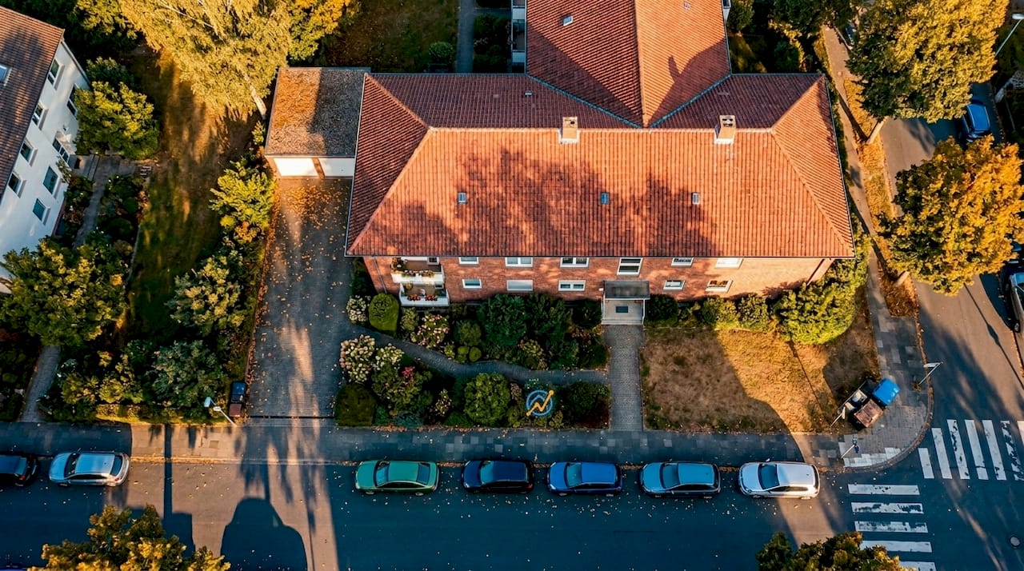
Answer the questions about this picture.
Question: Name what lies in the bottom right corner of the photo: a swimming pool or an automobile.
automobile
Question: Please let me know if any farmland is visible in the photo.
No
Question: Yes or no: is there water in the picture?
No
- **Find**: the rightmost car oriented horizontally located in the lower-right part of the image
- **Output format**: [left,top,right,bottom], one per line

[737,459,821,499]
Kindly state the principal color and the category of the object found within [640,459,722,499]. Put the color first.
blue car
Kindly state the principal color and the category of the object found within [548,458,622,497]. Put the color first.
blue car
